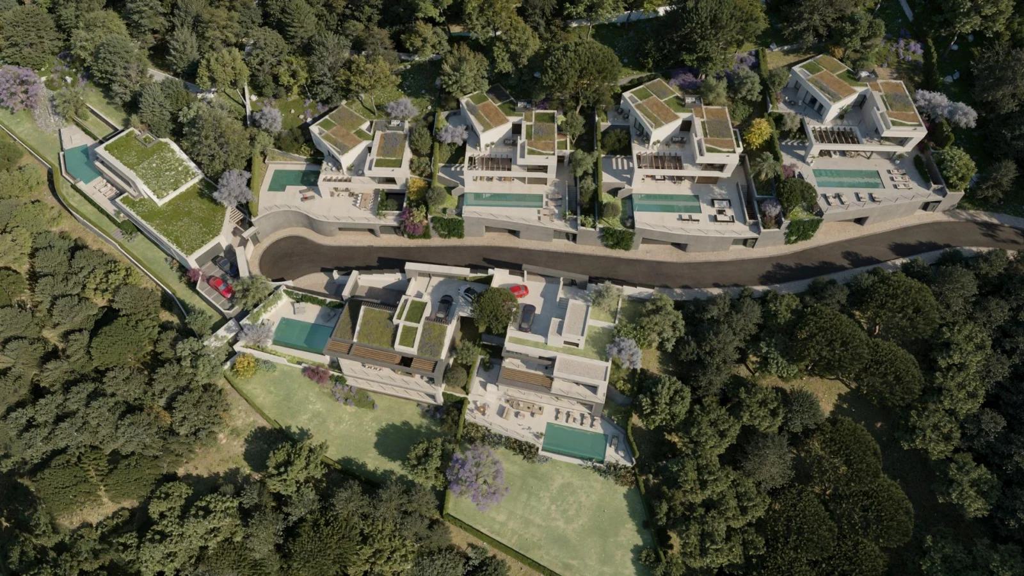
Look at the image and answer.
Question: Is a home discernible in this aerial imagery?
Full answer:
Yes, the image includes a home.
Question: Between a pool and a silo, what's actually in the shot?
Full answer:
It is a pool that can be seen here.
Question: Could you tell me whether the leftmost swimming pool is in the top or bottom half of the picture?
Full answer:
It is in the top half that the leftmost swimming pool appears.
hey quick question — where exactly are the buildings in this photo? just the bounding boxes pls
[466,268,636,471]
[253,104,413,239]
[59,123,245,322]
[606,78,762,254]
[233,270,488,408]
[766,55,948,228]
[441,86,580,249]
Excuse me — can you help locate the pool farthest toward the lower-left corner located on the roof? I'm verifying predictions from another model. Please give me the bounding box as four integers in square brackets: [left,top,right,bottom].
[273,318,334,355]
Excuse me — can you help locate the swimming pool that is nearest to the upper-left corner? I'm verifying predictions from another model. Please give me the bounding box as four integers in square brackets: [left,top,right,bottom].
[65,145,102,183]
